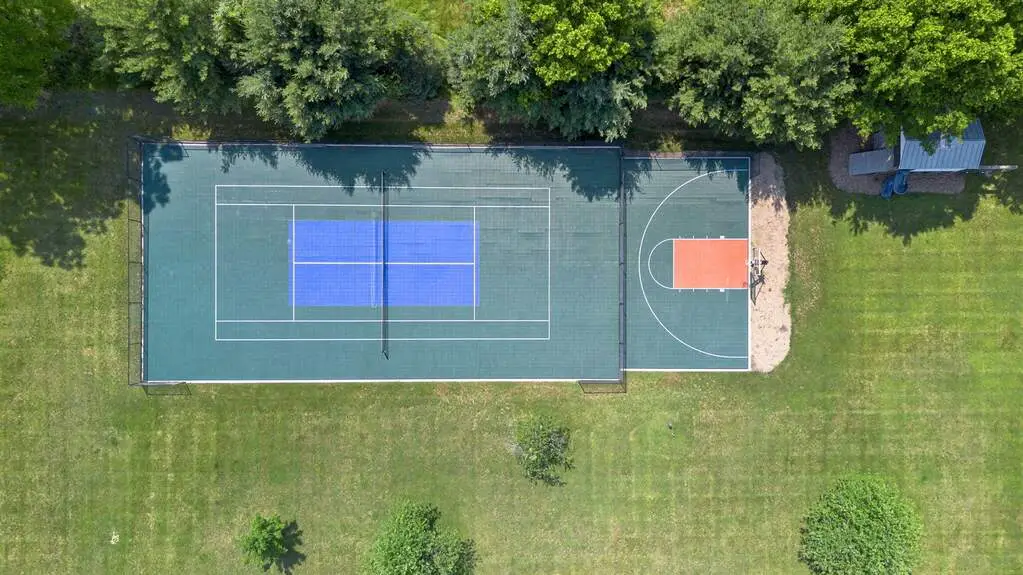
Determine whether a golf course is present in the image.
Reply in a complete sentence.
No, I find no golf course anywhere in the image.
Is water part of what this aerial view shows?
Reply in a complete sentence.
No, there is no water in the image.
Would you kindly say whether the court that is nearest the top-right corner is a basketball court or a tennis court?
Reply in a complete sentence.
Looking closely, the court that is nearest the top-right corner is a basketball court.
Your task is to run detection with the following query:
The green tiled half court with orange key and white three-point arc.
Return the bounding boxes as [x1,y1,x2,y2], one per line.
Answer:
[619,155,751,371]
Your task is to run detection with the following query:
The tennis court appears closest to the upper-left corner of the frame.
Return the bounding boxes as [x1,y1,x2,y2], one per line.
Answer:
[140,140,619,383]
